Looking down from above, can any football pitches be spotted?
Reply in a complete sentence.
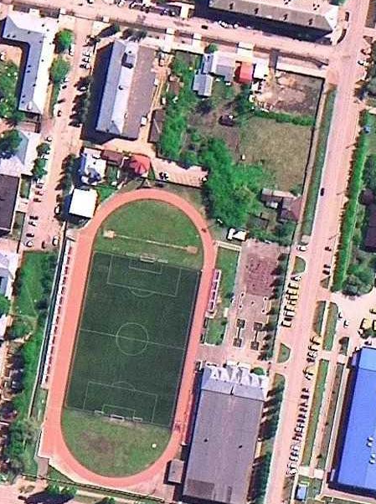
Yes, a football pitch is visible in the scene.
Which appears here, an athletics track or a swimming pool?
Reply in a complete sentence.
The one in the frame is an athletics track.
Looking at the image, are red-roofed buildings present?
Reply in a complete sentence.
Yes, the image includes a red-roofed building.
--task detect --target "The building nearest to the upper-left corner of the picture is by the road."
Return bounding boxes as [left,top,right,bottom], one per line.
[1,14,62,118]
